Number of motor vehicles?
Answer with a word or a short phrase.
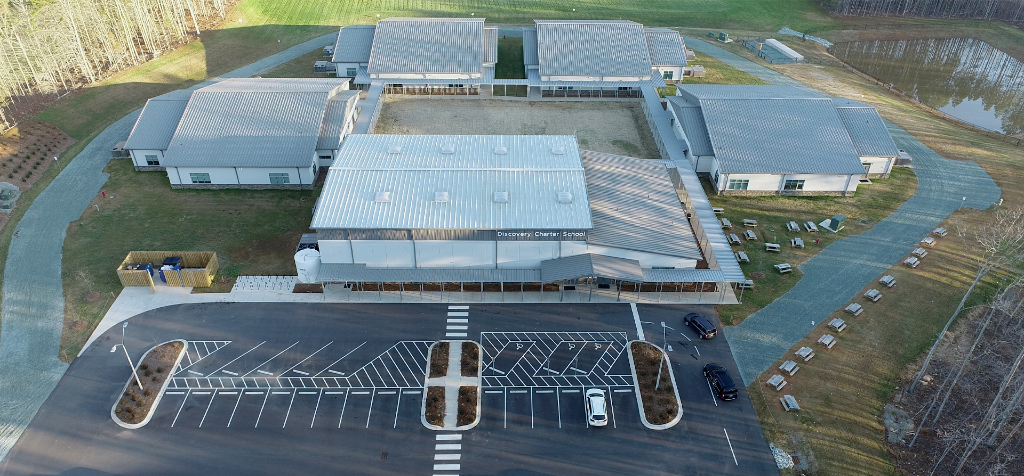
3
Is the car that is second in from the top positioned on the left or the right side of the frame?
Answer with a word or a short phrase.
right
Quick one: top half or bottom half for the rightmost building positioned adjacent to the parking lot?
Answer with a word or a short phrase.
top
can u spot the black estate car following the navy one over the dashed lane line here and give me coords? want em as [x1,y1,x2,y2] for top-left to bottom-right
[704,363,741,403]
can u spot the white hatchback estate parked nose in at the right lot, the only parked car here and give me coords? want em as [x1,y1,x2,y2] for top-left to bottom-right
[585,386,608,423]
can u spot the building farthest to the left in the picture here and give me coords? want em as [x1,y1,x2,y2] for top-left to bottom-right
[122,80,362,190]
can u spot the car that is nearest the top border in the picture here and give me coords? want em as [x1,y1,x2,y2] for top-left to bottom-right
[682,310,722,342]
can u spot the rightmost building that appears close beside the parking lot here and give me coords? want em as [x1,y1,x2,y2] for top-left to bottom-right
[669,85,901,197]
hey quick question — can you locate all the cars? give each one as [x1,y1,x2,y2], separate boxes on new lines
[704,363,741,403]
[682,310,722,342]
[585,386,608,423]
